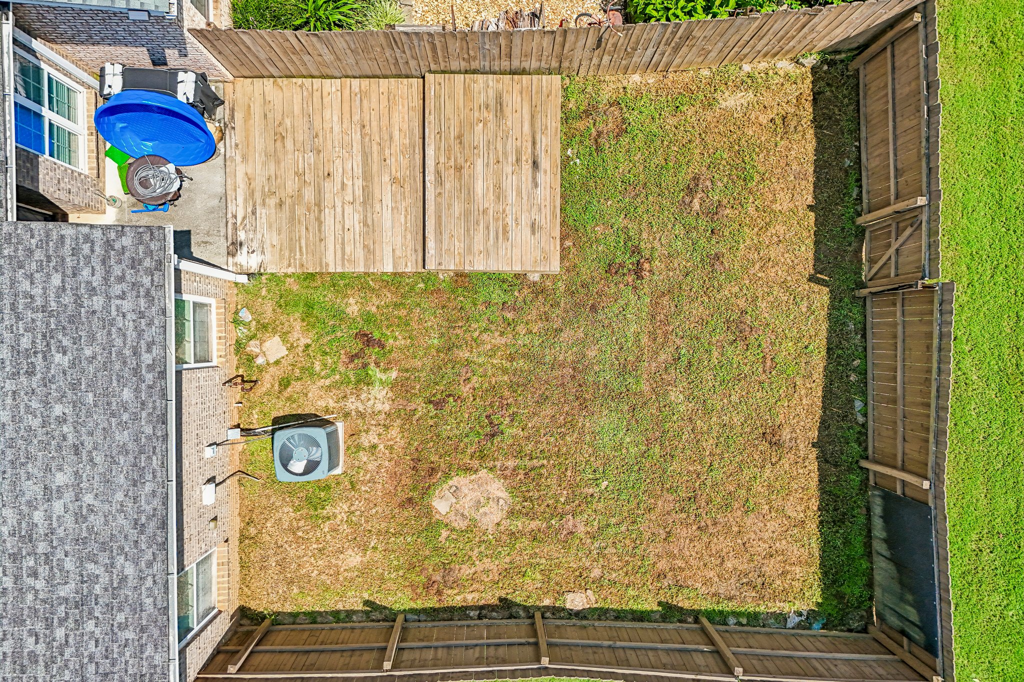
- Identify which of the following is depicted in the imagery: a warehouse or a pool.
pool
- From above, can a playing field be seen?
No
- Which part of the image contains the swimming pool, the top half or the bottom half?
top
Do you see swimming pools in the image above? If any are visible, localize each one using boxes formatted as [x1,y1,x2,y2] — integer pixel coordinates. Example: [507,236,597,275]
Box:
[93,85,217,167]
